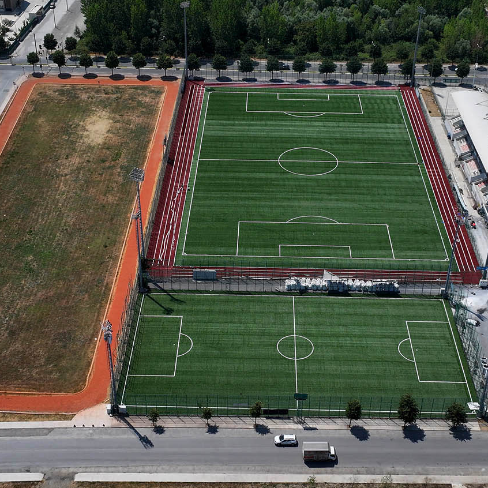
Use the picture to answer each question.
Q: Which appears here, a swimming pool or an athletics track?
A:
athletics track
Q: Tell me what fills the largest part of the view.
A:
grass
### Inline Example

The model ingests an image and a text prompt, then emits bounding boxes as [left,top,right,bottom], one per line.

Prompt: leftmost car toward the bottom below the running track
[274,434,298,446]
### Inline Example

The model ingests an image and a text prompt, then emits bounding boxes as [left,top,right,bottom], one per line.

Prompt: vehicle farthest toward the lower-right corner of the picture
[304,438,338,461]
